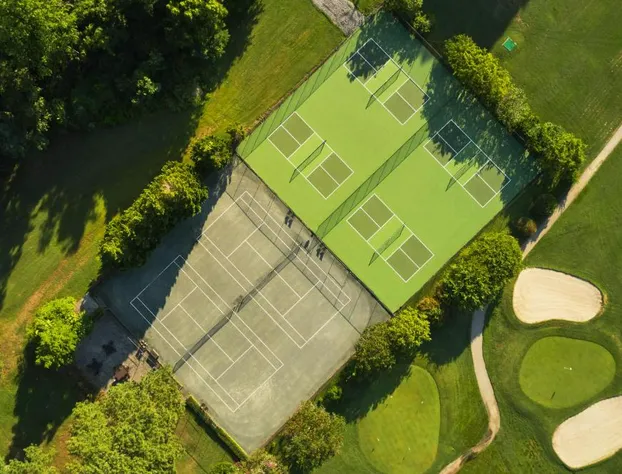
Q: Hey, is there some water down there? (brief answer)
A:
No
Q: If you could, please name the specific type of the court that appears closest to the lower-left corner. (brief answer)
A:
tennis court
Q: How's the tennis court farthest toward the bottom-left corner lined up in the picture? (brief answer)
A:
diagonally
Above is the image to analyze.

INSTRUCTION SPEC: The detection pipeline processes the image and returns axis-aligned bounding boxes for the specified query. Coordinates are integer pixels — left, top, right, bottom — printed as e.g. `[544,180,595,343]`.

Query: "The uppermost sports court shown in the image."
[344,37,430,125]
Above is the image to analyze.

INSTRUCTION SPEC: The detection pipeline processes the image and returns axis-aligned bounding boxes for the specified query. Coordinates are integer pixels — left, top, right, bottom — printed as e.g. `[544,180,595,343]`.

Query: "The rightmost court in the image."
[424,120,510,207]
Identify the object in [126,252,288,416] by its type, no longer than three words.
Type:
tennis court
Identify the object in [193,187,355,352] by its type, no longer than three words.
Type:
tennis court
